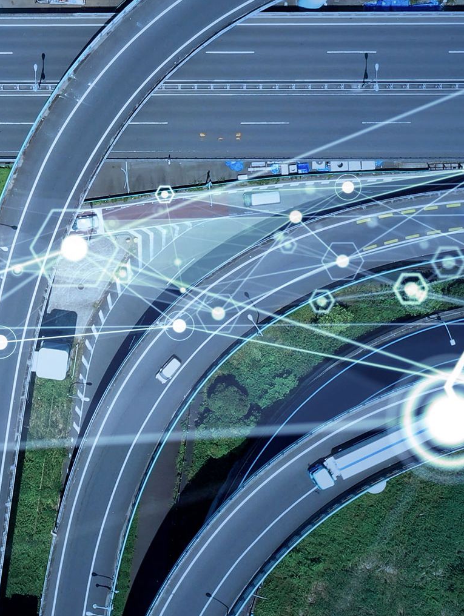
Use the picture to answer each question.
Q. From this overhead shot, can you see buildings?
No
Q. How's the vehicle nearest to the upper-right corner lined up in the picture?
from left to right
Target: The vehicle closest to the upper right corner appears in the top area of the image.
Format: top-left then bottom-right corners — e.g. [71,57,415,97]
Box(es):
[240,190,281,210]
